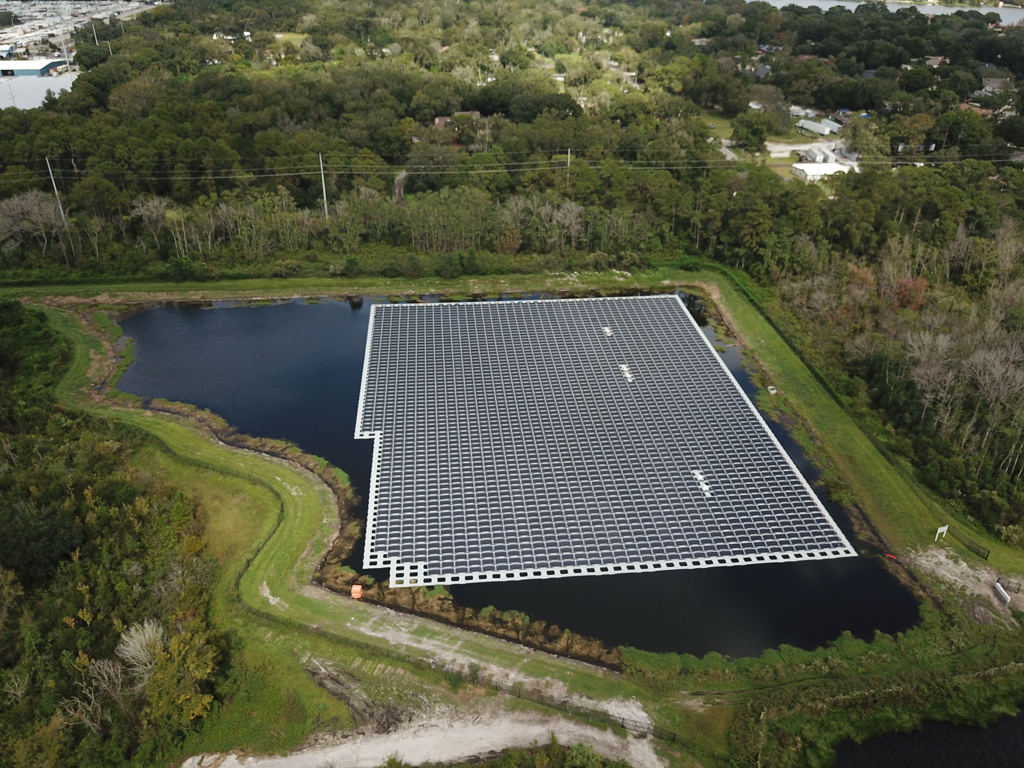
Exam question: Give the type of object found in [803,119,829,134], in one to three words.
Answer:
vehicle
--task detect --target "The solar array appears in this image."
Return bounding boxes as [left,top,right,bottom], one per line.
[353,294,858,588]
